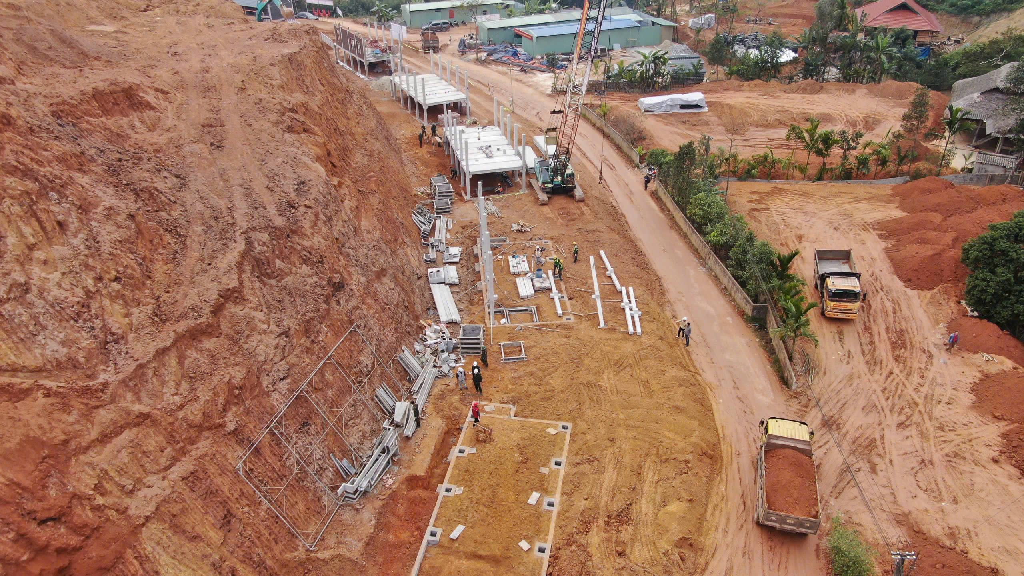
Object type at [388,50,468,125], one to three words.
house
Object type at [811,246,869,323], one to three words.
truck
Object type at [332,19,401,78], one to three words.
house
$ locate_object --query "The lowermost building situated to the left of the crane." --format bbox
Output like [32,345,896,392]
[443,98,526,199]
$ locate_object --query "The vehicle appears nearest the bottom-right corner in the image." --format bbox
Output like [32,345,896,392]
[751,403,821,551]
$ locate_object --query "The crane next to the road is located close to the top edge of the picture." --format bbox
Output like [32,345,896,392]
[526,0,618,203]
